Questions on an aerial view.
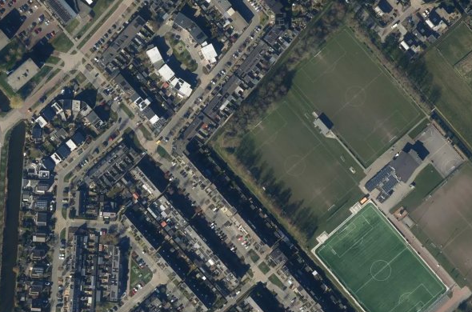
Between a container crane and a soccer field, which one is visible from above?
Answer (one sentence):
It is a soccer field that can be seen here.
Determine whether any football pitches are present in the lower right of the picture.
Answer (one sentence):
Yes, looking in the lower right of the picture, one can make out a football pitch.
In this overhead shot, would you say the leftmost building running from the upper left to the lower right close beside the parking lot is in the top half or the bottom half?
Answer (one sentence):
Seen from above, the leftmost building running from the upper left to the lower right close beside the parking lot lies in the top half of the view.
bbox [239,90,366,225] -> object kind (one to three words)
soccer field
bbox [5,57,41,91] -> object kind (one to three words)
building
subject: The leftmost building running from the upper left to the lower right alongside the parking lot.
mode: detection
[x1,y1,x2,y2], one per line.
[45,0,78,28]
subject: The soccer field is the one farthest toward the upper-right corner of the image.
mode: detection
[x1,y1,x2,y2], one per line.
[289,26,422,165]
